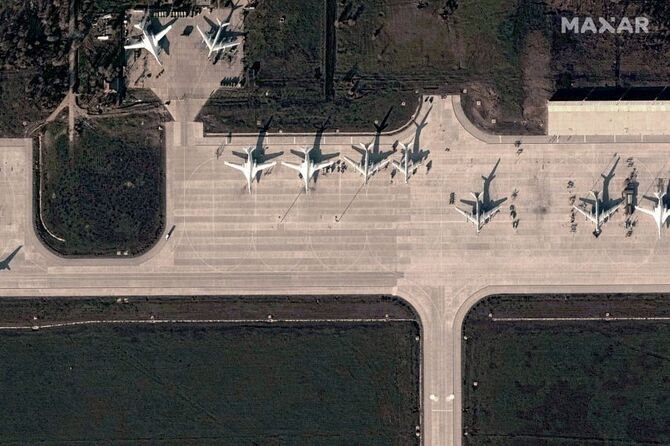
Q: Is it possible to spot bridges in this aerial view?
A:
No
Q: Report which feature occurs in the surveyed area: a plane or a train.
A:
plane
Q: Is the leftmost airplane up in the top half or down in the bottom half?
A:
top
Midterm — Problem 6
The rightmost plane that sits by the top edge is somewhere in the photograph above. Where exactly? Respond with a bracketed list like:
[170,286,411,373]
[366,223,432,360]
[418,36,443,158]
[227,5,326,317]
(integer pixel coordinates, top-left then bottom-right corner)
[197,17,241,59]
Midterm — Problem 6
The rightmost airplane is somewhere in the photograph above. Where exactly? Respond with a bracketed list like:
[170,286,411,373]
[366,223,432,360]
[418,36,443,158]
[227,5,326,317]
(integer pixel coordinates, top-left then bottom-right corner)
[634,188,670,237]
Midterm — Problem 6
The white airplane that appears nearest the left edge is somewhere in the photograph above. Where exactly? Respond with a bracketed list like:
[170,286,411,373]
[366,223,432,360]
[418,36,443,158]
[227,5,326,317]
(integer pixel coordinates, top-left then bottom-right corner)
[123,20,171,65]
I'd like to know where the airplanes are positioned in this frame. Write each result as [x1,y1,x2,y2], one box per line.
[224,144,276,192]
[344,141,391,184]
[197,17,241,59]
[454,189,501,233]
[281,143,333,192]
[634,188,670,237]
[123,20,171,65]
[392,141,421,184]
[573,188,620,232]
